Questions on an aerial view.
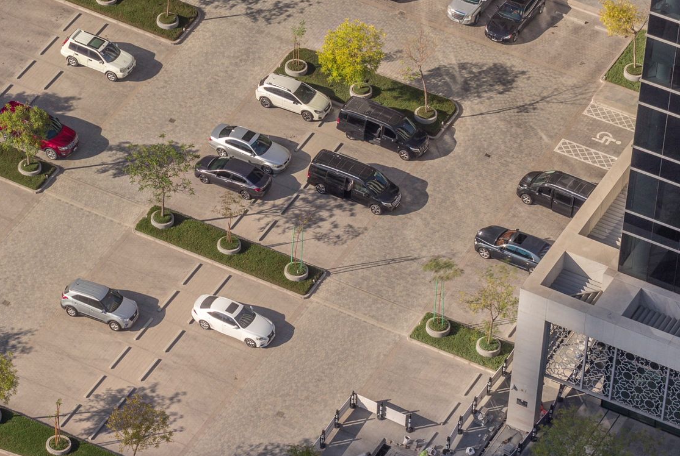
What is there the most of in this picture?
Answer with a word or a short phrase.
paved ground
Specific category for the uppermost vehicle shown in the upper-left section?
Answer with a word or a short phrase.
car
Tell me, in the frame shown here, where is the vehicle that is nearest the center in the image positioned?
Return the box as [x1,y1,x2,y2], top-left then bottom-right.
[306,147,406,215]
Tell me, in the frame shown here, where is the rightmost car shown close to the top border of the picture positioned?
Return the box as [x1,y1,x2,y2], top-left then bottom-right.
[483,0,548,45]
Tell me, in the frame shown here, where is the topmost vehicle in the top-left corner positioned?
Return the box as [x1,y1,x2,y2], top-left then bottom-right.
[58,25,139,81]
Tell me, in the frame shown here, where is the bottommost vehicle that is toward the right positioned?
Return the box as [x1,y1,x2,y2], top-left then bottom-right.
[468,224,553,272]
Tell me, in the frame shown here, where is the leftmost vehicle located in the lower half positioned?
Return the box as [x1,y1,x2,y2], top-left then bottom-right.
[58,277,143,331]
